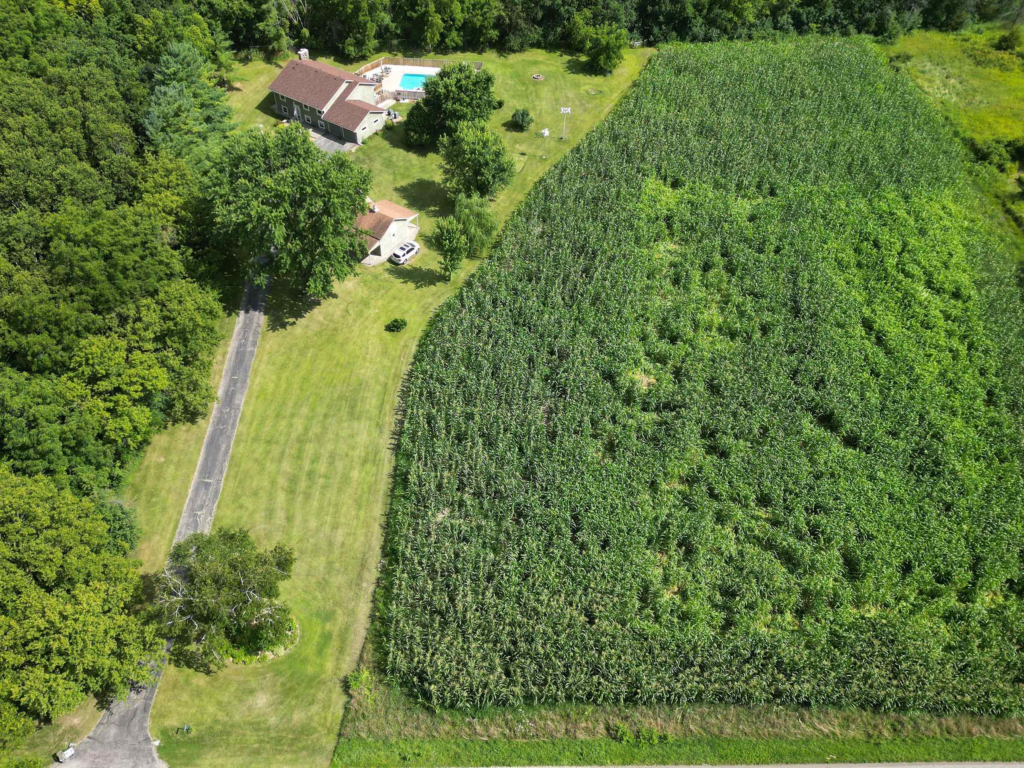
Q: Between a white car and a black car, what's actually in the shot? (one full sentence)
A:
The one in the frame is a white car.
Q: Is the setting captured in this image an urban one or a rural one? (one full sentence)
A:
This place is rural.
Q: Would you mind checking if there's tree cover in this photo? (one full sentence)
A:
Yes, there's tree cover in this view.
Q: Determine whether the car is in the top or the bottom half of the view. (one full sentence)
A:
You can find the car in the top half.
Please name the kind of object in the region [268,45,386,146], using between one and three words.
house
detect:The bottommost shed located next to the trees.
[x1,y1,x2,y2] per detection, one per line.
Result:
[341,199,421,265]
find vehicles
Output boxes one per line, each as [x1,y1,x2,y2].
[390,241,422,265]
